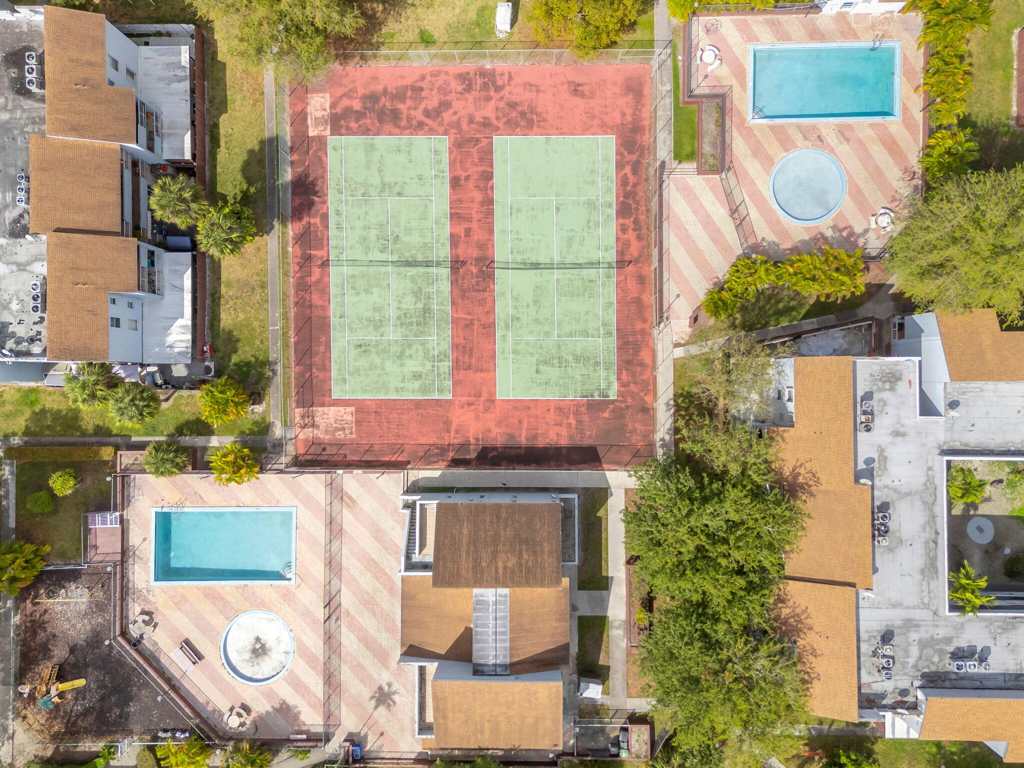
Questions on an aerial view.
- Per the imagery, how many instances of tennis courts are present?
1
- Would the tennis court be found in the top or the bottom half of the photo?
top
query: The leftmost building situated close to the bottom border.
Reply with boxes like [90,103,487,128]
[396,487,569,750]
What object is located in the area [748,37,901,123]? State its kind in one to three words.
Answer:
swimming pool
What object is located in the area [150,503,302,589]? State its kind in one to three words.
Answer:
swimming pool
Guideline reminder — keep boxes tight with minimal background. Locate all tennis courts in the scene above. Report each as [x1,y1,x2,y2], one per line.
[288,64,653,468]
